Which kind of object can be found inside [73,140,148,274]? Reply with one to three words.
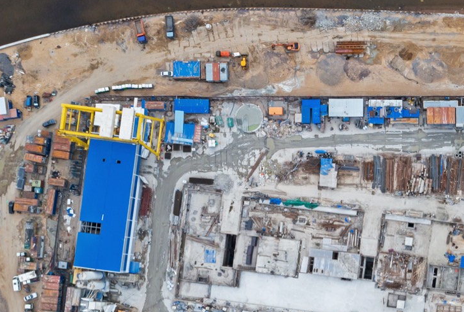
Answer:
building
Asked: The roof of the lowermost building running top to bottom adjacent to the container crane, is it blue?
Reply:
Yes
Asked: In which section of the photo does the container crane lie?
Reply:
left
